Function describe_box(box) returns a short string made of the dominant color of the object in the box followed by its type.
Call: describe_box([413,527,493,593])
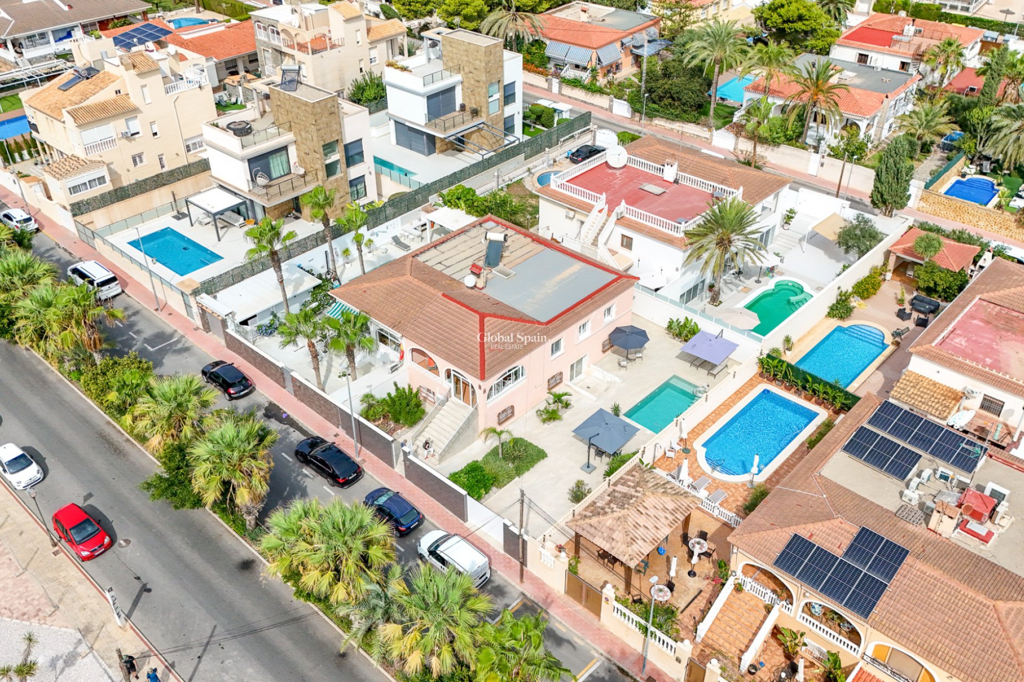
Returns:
white van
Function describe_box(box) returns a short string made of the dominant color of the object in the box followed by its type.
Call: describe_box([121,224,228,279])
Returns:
blue swimming pool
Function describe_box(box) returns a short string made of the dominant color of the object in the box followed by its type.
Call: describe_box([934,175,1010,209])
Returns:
blue swimming pool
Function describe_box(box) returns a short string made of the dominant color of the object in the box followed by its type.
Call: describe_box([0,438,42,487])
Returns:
white car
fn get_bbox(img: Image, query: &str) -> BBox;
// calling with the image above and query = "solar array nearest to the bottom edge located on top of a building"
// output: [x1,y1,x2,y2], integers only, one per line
[775,523,914,619]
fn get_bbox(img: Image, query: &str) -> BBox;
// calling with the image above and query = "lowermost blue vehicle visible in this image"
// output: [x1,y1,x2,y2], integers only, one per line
[360,485,426,537]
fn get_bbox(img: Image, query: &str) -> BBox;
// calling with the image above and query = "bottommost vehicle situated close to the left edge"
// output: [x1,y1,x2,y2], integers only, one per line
[46,498,107,557]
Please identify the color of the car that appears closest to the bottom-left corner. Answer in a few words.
red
